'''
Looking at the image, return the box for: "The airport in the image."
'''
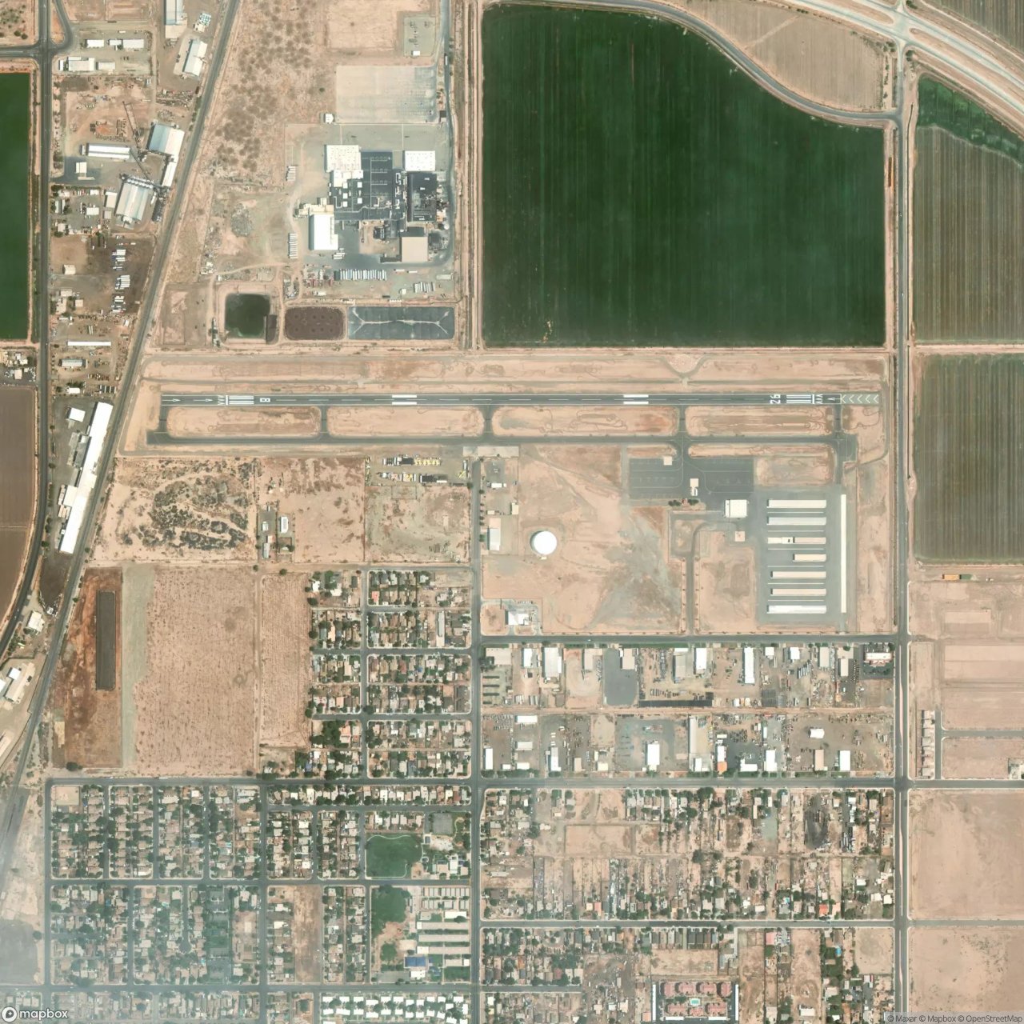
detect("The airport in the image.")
[147,393,880,622]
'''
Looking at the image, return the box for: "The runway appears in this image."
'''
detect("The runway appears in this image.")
[162,393,880,407]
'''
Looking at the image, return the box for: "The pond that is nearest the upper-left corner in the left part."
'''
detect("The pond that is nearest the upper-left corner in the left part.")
[222,290,273,343]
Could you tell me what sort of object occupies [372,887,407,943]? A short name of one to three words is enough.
sports field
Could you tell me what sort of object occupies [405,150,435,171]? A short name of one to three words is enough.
building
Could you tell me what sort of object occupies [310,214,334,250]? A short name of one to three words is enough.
building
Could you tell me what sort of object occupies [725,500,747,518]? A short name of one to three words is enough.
hangar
